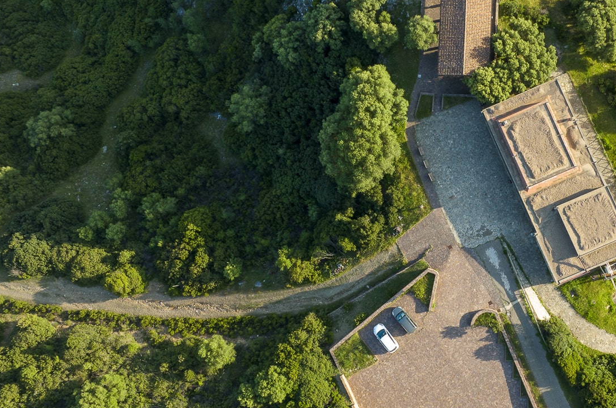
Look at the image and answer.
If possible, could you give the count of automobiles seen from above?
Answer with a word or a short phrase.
2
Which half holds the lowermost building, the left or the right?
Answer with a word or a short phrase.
right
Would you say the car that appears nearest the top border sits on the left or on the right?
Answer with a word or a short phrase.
right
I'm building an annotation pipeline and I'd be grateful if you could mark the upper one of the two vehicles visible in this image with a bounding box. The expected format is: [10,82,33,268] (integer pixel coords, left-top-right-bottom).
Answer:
[393,304,418,337]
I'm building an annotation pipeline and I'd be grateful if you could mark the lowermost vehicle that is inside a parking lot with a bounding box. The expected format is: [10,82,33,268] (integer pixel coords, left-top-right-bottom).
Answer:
[375,322,399,355]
